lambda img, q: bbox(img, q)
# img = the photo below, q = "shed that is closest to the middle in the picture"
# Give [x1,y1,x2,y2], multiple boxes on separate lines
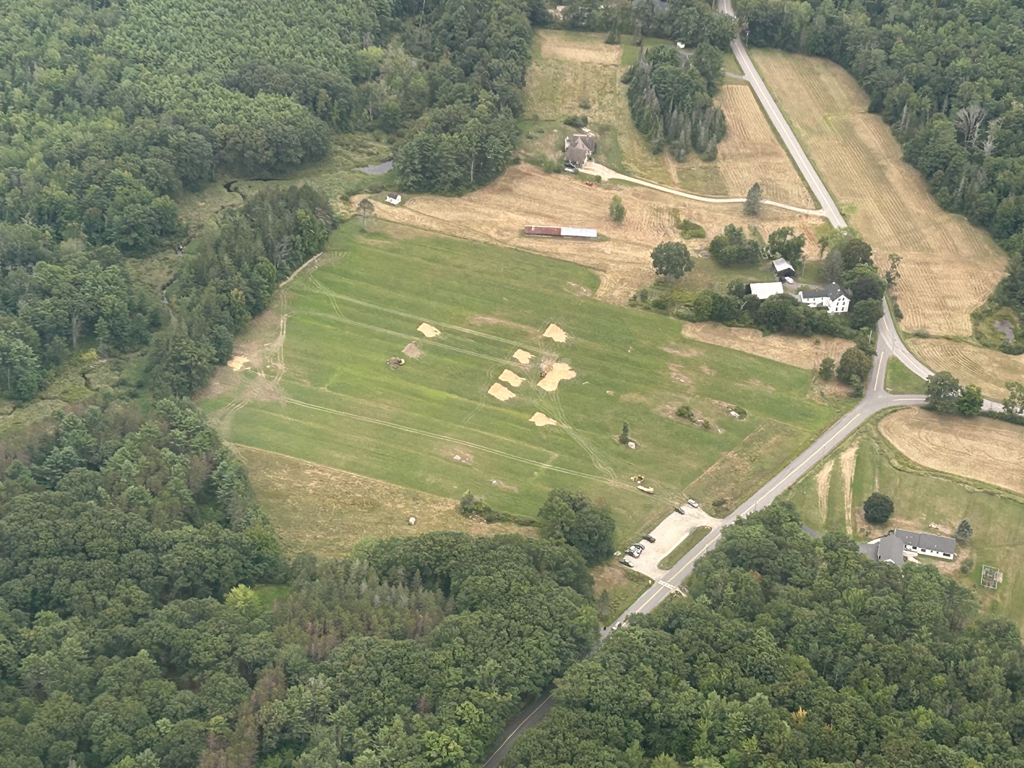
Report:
[525,225,597,239]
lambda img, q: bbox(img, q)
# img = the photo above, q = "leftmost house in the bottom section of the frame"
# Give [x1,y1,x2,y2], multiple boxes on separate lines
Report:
[874,527,955,559]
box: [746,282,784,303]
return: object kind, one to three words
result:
barn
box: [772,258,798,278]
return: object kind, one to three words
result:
barn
